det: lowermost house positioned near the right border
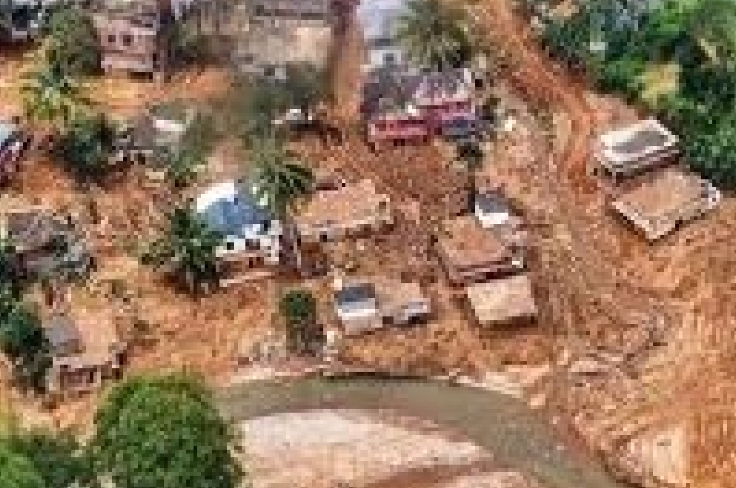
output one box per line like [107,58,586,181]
[612,158,721,248]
